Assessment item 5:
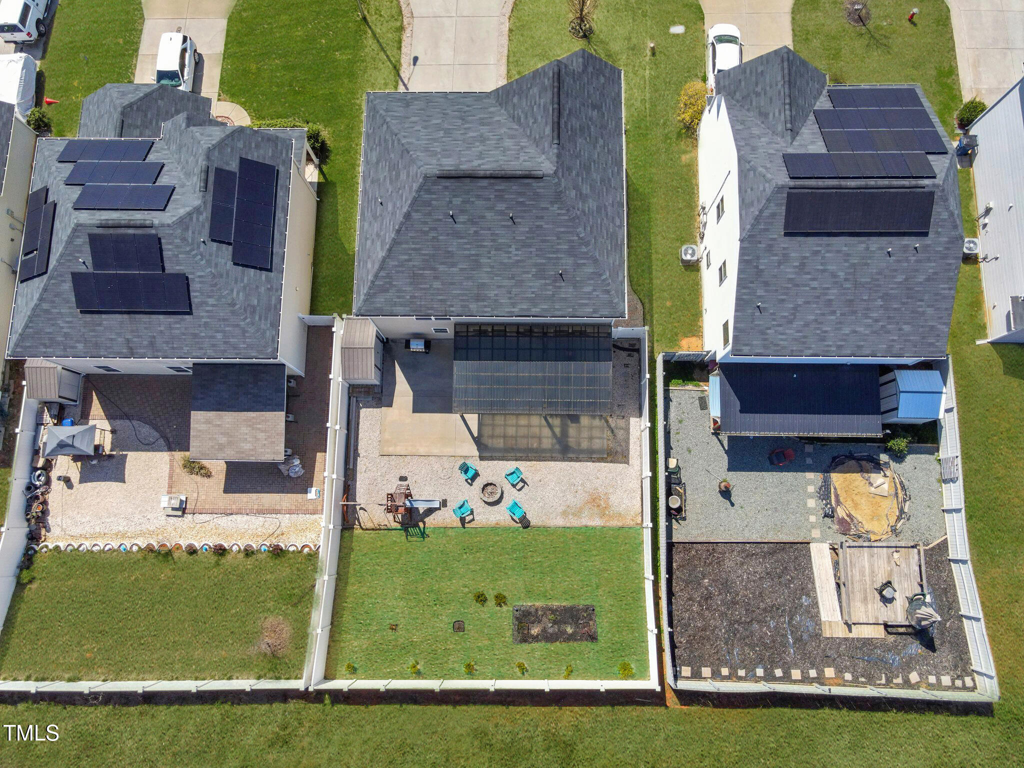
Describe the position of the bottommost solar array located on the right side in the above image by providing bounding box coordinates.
[784,190,934,231]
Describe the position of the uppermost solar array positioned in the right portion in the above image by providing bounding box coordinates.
[782,88,948,177]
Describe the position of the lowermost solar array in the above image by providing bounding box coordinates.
[71,234,190,311]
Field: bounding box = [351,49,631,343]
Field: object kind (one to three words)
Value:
house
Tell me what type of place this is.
residential area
